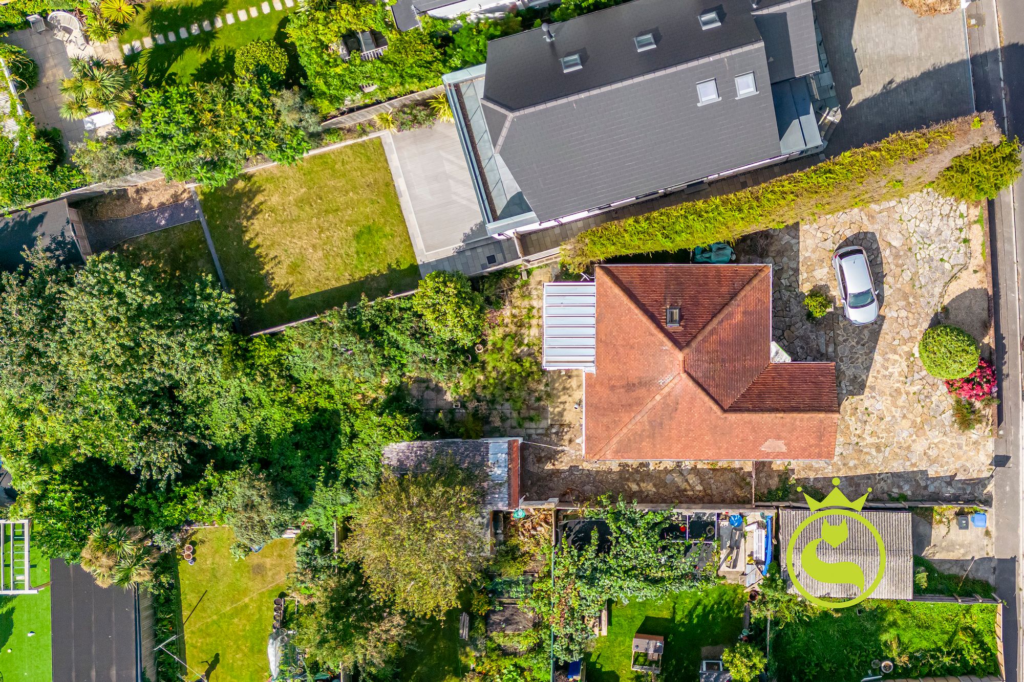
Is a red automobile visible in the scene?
No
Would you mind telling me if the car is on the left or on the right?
right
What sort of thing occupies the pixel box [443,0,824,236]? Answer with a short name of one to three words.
house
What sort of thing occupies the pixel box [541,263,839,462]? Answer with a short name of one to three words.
house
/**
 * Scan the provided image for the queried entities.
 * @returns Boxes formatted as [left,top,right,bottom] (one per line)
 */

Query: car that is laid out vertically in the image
[834,245,881,327]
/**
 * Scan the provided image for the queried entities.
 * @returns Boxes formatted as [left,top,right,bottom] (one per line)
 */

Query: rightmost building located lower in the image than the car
[780,506,914,599]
